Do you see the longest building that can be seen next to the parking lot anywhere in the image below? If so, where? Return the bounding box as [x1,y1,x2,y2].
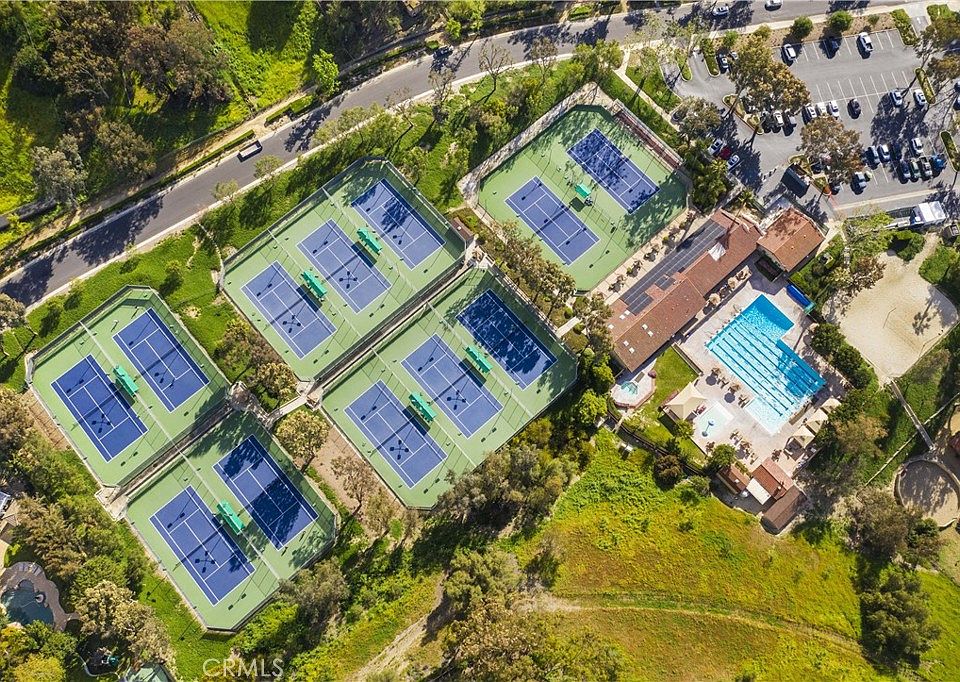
[606,208,766,371]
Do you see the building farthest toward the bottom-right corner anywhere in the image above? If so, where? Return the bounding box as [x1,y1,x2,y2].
[758,486,805,533]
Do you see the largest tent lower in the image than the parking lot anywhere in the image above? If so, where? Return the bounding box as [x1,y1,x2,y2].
[663,383,708,423]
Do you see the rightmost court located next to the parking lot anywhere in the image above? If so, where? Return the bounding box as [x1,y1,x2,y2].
[822,231,957,382]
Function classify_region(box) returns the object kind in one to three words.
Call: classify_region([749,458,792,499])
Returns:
building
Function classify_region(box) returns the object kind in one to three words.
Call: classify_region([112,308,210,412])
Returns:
tennis court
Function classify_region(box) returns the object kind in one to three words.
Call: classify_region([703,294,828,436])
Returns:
swimming pool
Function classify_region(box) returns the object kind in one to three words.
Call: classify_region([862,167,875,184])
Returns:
vehicle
